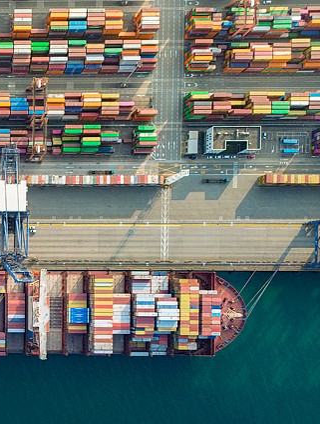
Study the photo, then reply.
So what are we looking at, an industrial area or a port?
port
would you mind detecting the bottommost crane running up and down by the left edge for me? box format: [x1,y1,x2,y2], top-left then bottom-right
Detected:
[0,139,44,281]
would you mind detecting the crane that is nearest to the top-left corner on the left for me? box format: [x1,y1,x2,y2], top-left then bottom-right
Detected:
[23,74,47,123]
